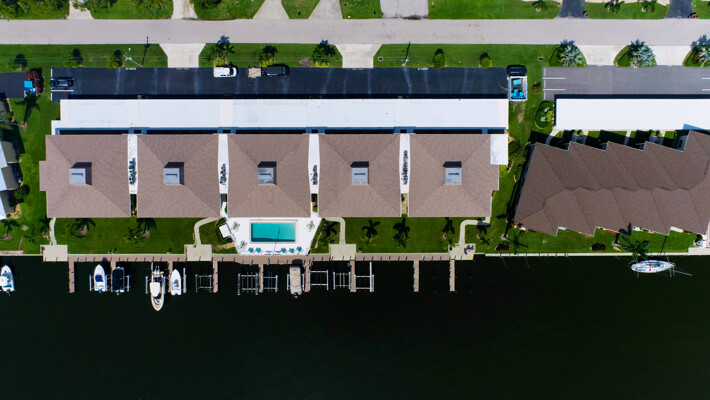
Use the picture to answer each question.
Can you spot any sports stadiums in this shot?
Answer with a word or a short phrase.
No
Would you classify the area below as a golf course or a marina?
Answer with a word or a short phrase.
marina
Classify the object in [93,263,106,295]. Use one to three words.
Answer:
boat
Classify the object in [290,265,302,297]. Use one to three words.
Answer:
boat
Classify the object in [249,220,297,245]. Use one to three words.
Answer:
swimming pool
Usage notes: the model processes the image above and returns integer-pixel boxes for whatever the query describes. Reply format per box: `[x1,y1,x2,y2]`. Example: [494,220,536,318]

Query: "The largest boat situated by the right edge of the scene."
[629,260,692,274]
